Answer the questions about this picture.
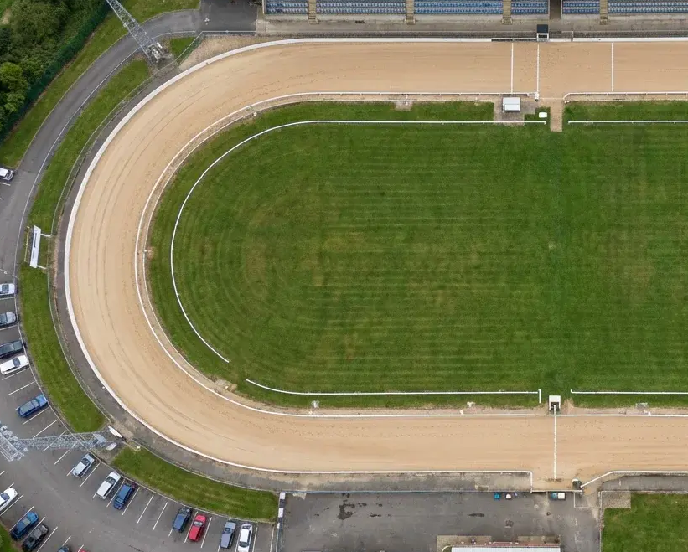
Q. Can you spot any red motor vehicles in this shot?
Yes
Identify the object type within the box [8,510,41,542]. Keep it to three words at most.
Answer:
car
